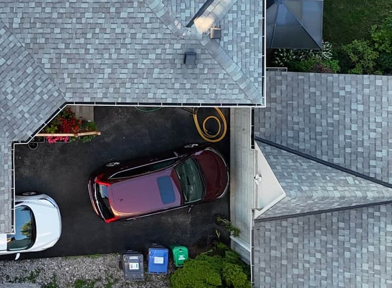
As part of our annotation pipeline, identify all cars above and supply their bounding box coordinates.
[0,194,62,260]
[86,147,232,228]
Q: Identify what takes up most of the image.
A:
buildings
